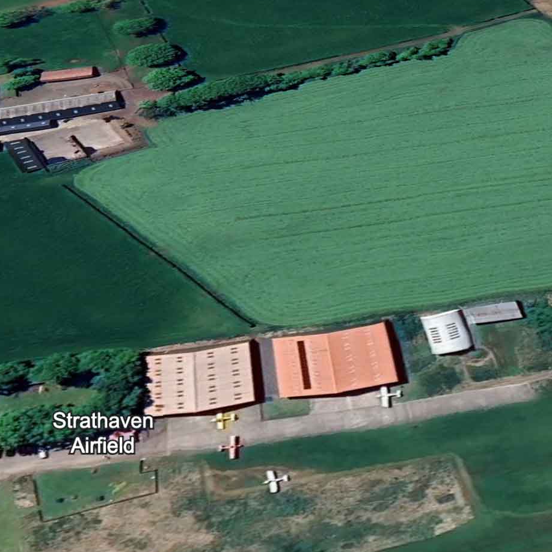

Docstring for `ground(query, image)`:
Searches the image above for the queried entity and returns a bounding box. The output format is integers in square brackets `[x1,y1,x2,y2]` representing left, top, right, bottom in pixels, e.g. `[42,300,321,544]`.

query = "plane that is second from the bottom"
[220,433,244,459]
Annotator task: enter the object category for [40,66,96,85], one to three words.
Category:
shed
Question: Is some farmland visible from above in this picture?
Yes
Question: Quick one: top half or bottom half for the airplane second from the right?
bottom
